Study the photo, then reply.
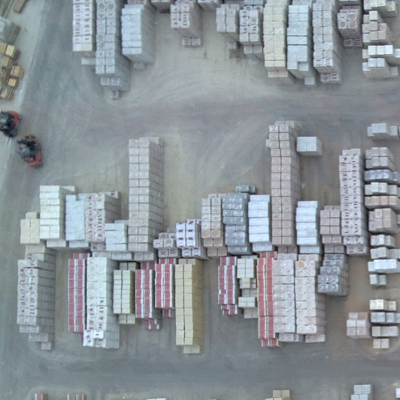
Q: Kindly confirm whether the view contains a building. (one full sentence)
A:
No, no building is visible in the view.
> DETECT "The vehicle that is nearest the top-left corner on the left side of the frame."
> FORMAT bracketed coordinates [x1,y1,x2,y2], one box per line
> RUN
[0,111,21,147]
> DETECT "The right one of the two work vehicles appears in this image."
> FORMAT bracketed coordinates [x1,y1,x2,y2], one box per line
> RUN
[15,131,43,163]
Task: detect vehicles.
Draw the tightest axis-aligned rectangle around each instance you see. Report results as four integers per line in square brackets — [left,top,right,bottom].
[15,131,43,163]
[0,111,21,147]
